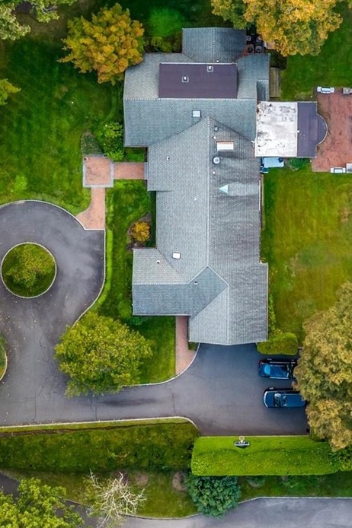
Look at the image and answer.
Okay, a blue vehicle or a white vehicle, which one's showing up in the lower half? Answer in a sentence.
You can see a blue vehicle in the lower half.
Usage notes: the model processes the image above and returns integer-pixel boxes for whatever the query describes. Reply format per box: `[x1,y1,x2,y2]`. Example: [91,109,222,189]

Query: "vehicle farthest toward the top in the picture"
[257,357,300,379]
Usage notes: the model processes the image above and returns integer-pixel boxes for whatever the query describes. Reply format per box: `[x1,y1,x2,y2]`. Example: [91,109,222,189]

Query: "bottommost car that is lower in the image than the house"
[263,388,304,410]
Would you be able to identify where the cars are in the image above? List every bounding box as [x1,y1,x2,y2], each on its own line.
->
[257,357,300,379]
[263,388,304,410]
